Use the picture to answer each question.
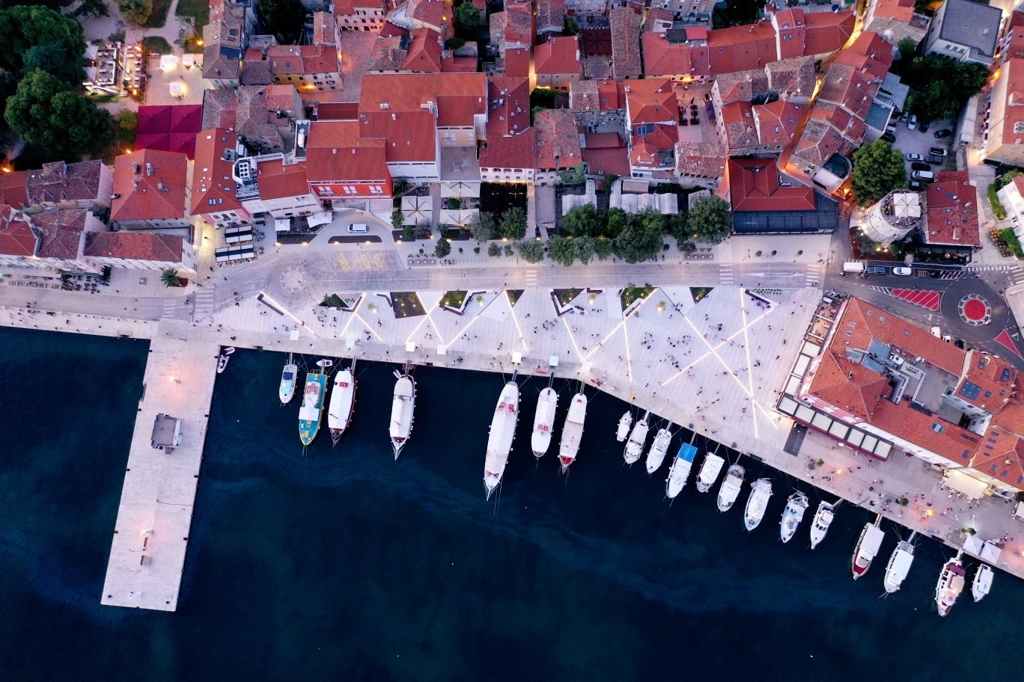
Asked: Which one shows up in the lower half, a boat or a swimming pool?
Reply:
boat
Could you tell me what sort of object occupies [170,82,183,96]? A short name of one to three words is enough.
umbrella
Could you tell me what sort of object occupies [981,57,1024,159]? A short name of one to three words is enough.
house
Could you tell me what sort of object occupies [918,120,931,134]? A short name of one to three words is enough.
vehicle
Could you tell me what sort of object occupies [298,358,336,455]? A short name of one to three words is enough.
boat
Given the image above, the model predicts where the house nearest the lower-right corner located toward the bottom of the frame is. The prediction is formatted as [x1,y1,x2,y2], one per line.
[952,426,1024,494]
